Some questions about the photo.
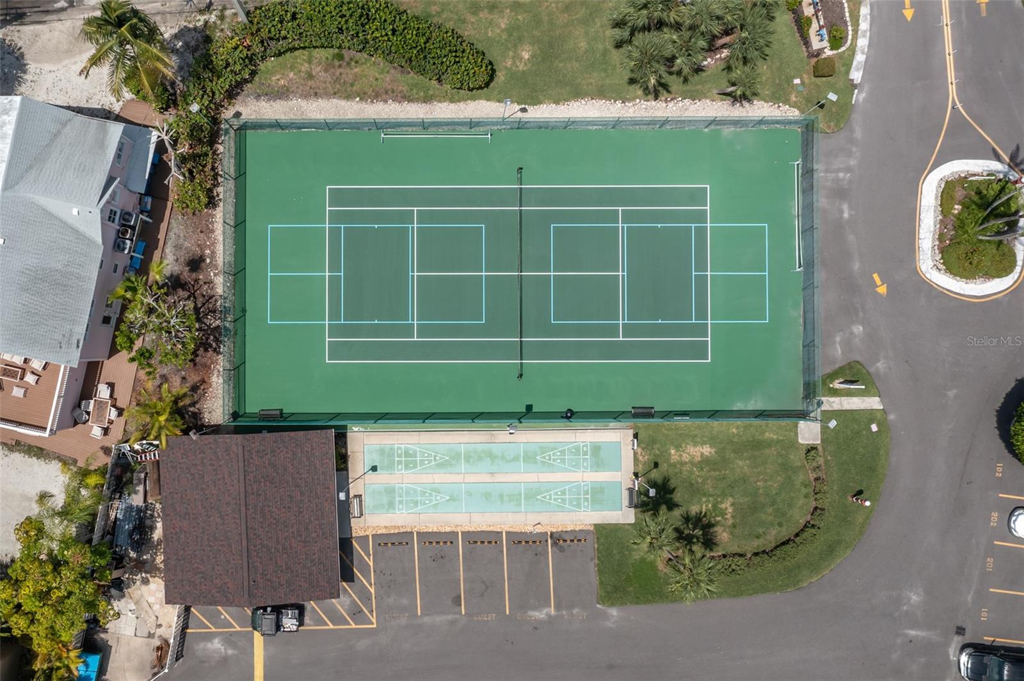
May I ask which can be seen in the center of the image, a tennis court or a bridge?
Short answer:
tennis court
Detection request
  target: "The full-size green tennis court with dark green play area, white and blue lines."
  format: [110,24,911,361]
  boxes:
[235,128,803,431]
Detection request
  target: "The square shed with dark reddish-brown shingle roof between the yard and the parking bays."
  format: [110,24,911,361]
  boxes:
[160,429,340,607]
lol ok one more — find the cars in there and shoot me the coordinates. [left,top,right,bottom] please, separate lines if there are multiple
[960,649,1024,681]
[1010,509,1024,539]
